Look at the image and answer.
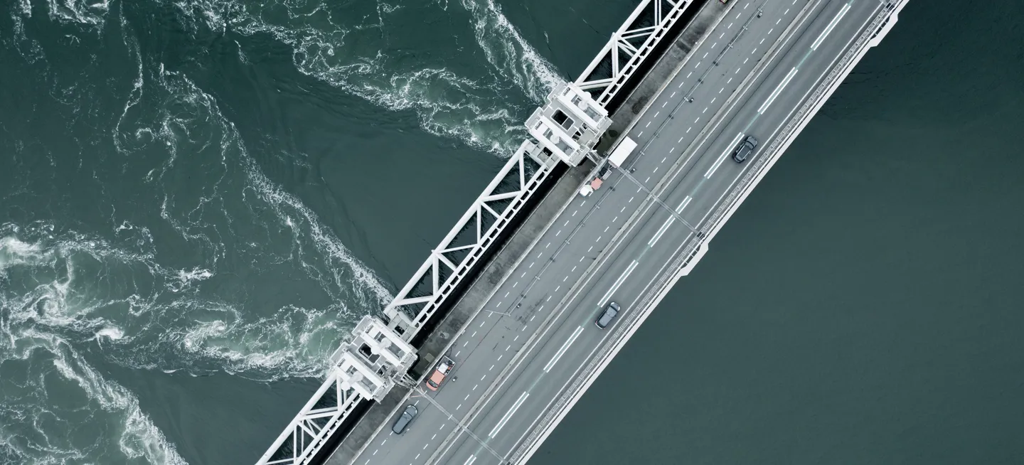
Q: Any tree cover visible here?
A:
No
